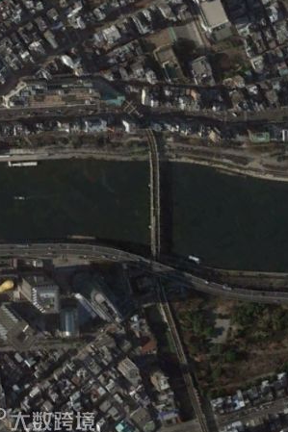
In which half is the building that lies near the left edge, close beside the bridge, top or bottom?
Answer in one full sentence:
The building that lies near the left edge, close beside the bridge sits in the top half of the picture.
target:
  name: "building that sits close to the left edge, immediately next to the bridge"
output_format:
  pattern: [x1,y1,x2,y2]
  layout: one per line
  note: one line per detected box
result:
[1,80,102,109]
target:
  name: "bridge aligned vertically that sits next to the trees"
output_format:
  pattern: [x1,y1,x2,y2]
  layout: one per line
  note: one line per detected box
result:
[140,114,213,432]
